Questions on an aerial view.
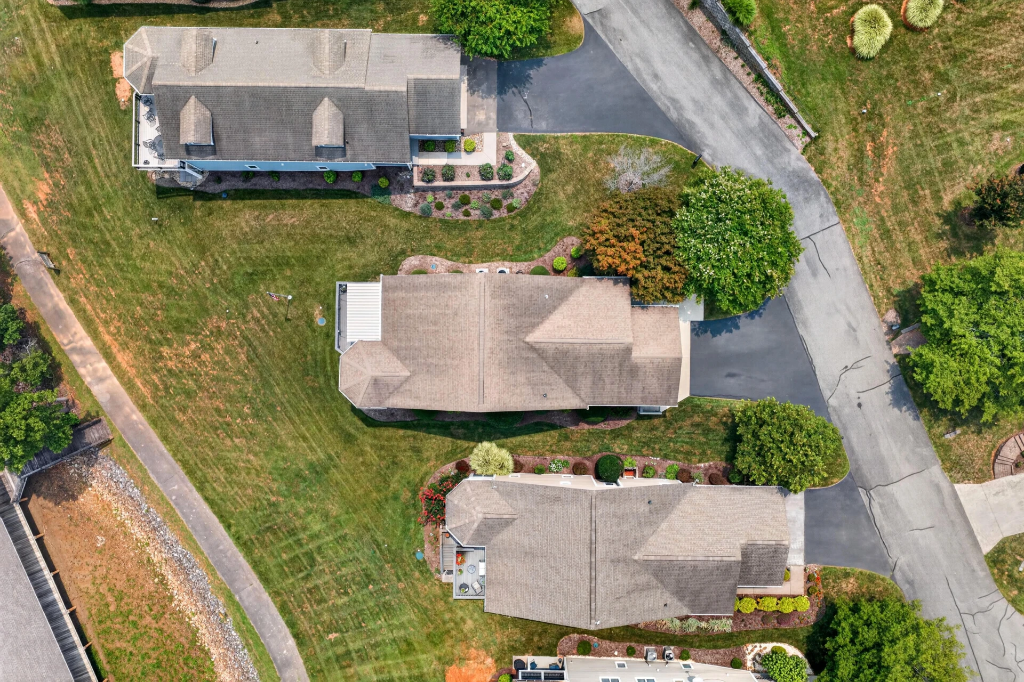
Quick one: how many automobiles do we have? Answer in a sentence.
No automobiles are visible.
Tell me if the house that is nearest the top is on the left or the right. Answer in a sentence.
The house that is nearest the top appears in the left half of the scene.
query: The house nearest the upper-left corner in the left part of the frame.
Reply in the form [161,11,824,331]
[122,25,464,171]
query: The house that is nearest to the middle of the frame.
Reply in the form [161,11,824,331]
[338,272,683,419]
